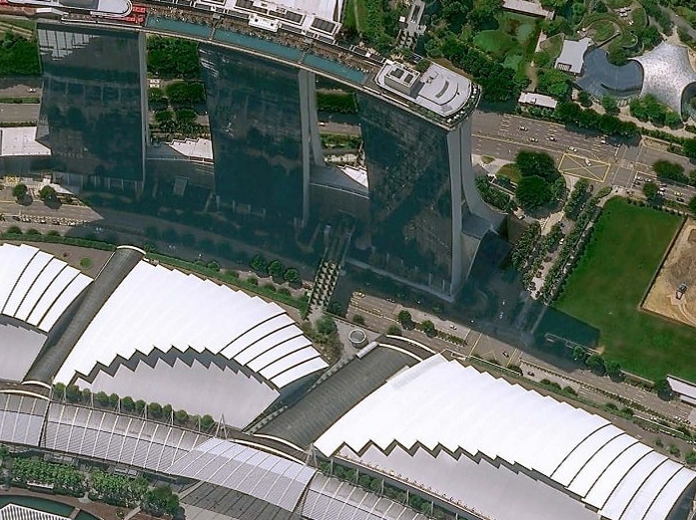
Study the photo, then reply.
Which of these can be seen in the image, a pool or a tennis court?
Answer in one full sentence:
This aerial view contains a pool.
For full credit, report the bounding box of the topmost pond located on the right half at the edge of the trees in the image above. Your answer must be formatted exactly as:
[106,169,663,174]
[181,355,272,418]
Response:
[476,15,540,69]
